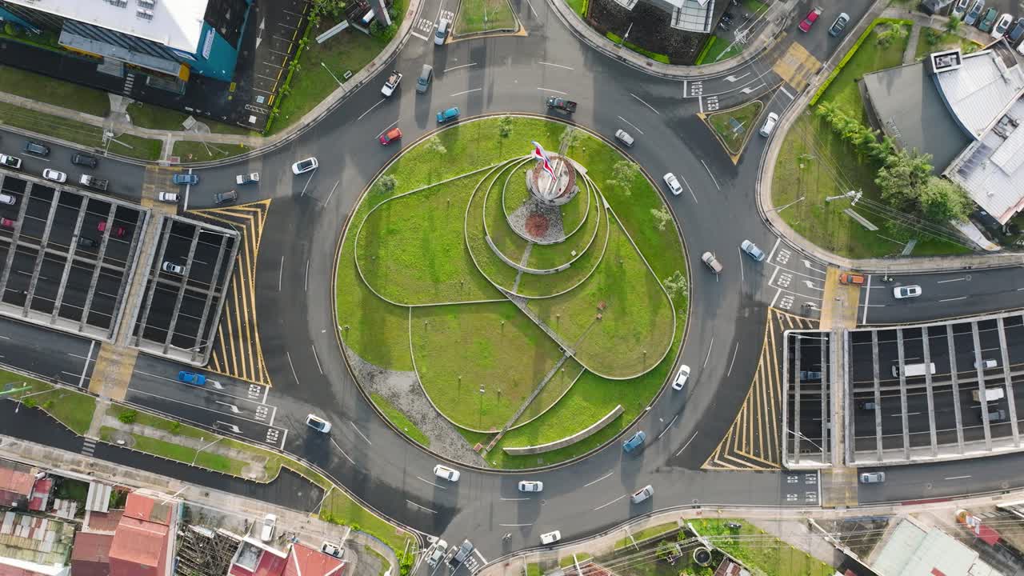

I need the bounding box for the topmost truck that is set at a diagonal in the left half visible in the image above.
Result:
[378,67,403,98]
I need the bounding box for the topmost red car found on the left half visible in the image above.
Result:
[378,128,401,144]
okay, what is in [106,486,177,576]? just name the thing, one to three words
house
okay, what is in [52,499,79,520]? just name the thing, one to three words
shed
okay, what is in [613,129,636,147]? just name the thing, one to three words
car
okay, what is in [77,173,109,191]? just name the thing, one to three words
vehicle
